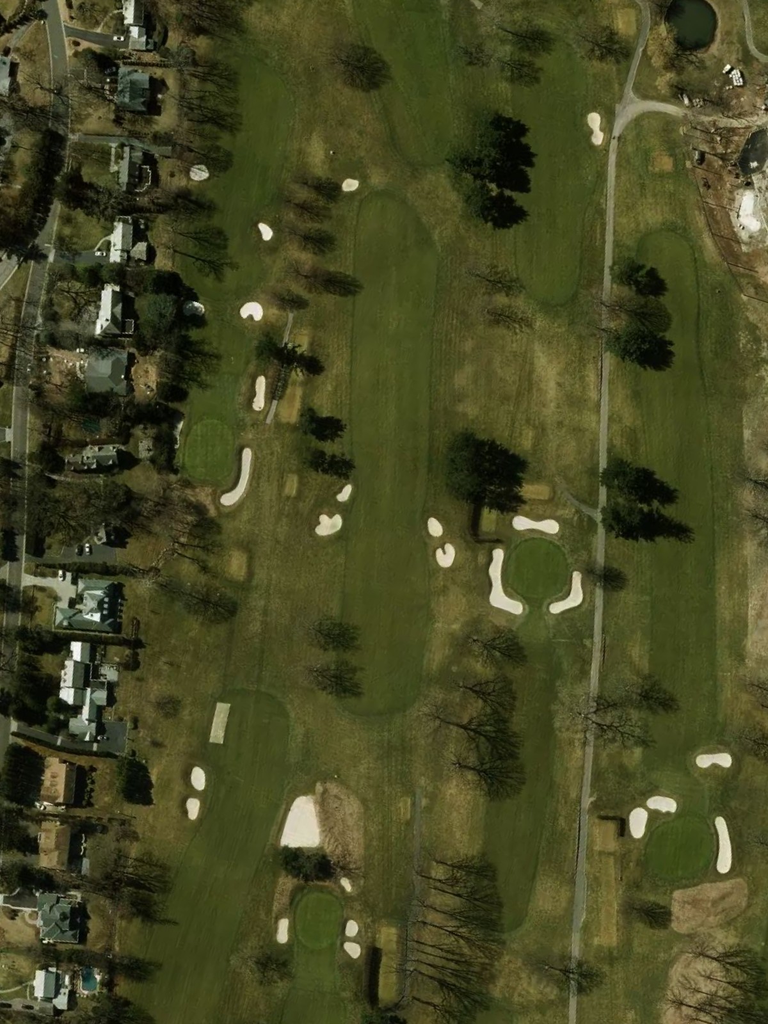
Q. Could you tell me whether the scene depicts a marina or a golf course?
golf course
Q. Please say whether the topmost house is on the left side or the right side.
left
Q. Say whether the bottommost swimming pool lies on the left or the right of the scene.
left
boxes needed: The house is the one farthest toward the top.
[123,0,154,50]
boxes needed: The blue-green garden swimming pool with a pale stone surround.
[78,964,101,995]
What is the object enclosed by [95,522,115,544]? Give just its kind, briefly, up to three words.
house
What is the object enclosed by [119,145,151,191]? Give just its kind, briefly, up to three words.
house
